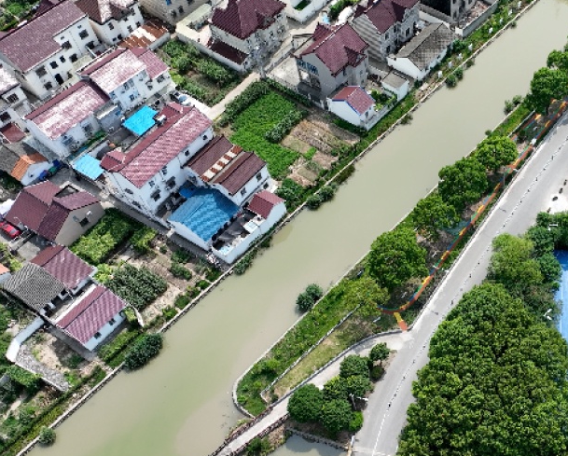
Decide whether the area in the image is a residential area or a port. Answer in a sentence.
The area seen from above is a residential area.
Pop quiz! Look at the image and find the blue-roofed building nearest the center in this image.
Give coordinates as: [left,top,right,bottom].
[168,181,245,251]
